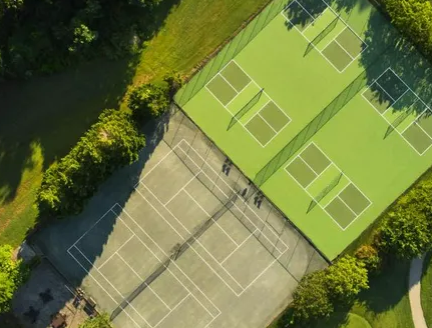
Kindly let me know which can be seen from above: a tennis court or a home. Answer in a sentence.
This aerial view contains a tennis court.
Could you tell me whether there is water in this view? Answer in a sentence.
No, no water is visible.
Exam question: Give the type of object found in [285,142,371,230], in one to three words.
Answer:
sports court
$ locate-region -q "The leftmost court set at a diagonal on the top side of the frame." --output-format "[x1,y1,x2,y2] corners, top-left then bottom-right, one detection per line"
[205,60,291,148]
